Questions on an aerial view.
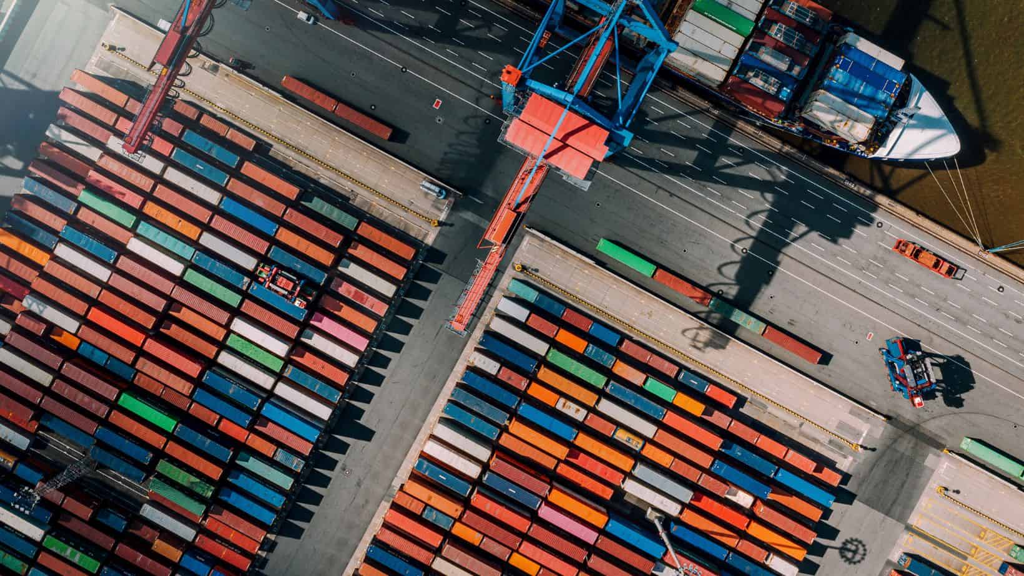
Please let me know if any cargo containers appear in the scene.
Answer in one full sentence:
Yes, this view includes a cargo container.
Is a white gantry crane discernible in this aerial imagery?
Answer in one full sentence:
No, the scene contains no white gantry crane.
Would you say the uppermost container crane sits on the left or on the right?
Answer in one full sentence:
It is on the left.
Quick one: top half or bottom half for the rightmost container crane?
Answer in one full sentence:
The top half of the photo is where the rightmost container crane is.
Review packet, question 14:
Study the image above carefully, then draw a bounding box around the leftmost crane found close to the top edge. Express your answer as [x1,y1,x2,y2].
[109,0,266,167]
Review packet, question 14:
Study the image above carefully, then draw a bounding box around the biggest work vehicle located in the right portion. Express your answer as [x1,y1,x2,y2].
[874,342,937,409]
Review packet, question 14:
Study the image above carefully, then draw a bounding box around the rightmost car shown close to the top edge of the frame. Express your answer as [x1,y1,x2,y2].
[296,9,318,26]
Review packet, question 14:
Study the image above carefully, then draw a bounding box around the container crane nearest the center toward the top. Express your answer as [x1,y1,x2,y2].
[438,0,688,339]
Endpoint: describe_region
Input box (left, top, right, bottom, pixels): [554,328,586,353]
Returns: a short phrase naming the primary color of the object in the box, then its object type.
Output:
orange shipping container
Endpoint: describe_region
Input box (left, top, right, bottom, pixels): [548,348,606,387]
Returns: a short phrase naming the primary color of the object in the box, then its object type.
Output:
green shipping container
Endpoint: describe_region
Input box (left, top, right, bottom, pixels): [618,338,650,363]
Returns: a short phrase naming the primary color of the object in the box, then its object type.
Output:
red shipping container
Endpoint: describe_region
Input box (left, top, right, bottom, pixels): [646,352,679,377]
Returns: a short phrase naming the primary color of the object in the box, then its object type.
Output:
red shipping container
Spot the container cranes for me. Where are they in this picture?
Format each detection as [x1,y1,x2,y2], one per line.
[109,0,266,167]
[438,0,688,339]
